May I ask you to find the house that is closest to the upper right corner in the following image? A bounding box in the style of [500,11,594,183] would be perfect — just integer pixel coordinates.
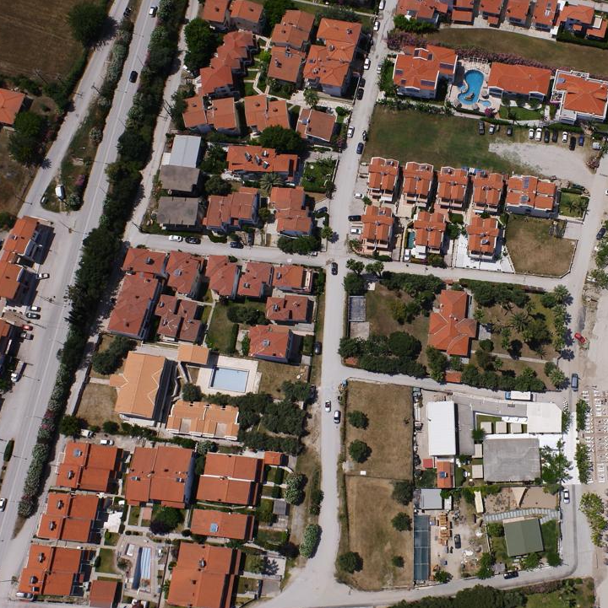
[557,5,608,42]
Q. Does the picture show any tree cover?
Yes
